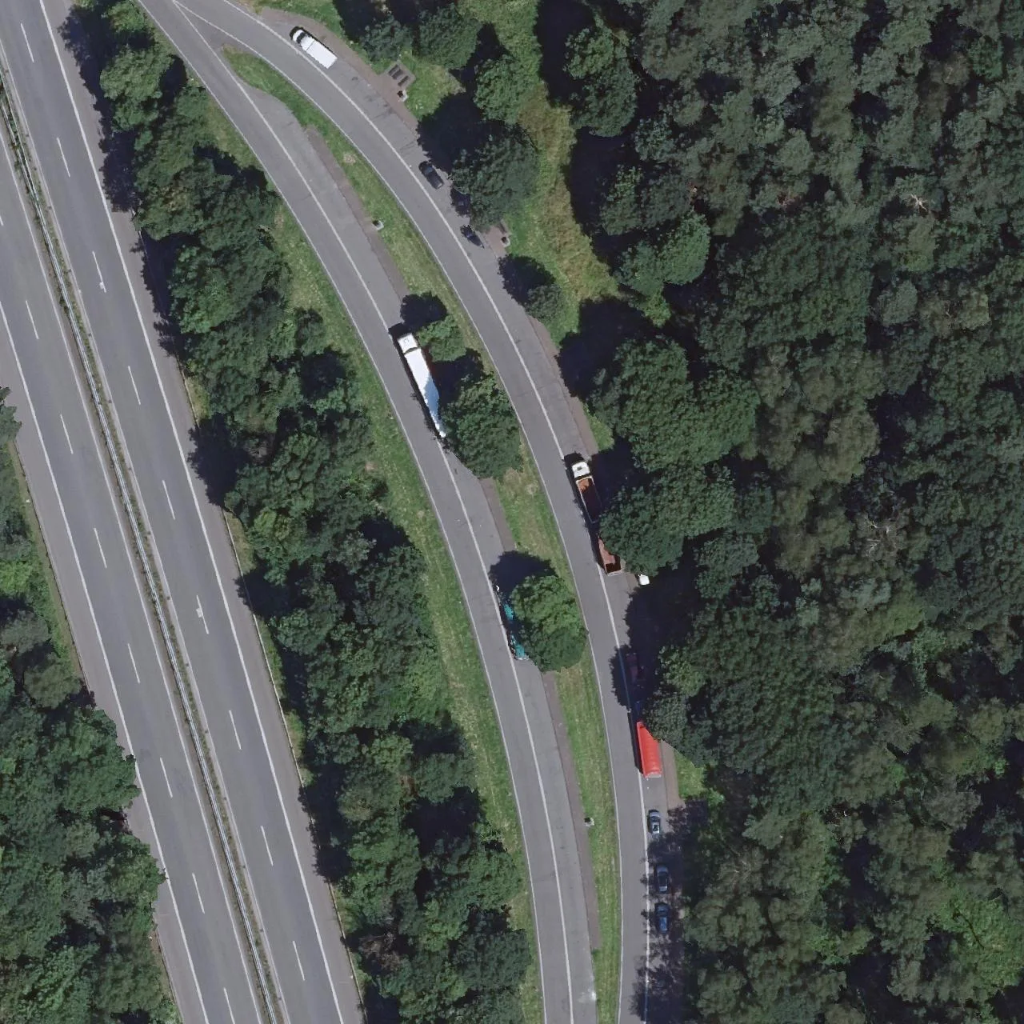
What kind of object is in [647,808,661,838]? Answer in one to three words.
car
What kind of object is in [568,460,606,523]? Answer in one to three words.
truck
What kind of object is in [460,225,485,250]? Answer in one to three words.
car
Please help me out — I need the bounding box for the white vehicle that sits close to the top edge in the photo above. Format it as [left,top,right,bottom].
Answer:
[294,29,337,68]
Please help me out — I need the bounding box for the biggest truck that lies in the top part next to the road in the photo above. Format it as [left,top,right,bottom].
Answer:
[395,332,454,437]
